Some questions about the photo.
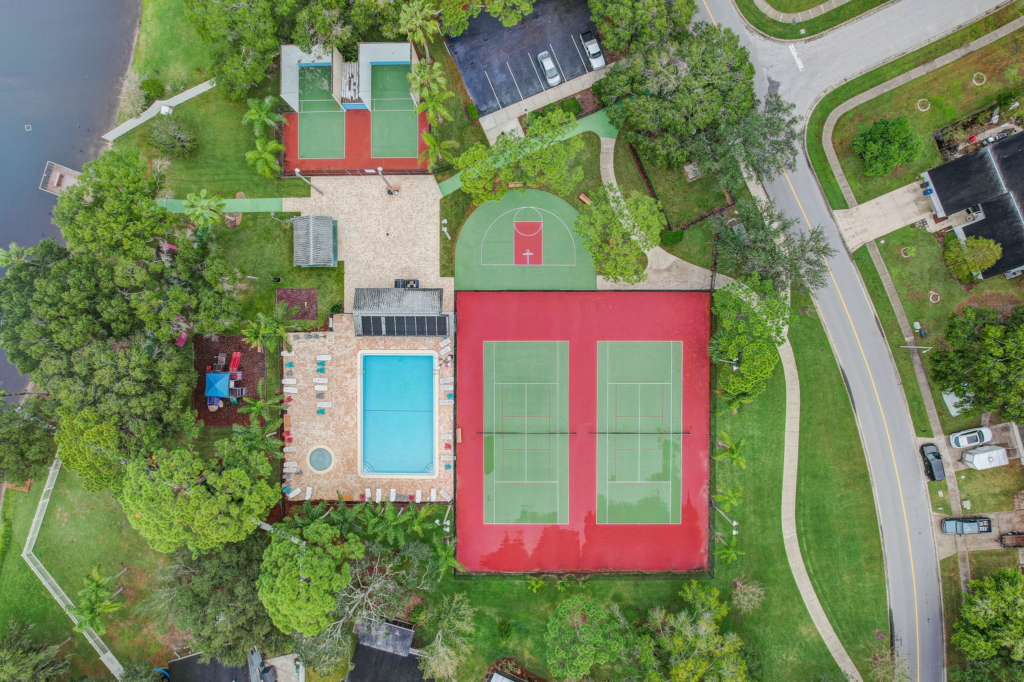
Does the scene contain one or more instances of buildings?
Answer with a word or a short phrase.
Yes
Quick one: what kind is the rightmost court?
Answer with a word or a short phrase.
tennis court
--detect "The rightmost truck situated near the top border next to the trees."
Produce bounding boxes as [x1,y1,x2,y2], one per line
[577,26,606,73]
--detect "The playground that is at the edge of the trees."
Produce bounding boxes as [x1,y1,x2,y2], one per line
[206,352,252,410]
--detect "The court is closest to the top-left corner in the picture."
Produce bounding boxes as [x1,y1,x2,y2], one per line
[279,42,358,173]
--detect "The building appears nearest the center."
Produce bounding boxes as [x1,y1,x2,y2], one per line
[353,288,454,336]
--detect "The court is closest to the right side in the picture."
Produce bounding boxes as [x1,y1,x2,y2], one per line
[583,291,710,572]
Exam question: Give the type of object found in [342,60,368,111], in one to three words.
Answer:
shed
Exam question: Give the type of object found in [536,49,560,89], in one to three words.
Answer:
car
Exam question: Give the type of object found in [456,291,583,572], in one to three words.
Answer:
tennis court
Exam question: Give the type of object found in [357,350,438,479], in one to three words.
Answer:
swimming pool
